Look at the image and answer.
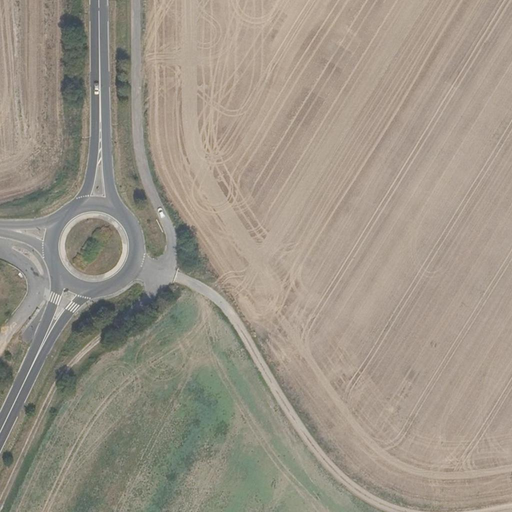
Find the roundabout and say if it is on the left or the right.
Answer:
left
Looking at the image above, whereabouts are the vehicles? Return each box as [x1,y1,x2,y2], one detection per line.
[94,83,100,95]
[158,207,166,219]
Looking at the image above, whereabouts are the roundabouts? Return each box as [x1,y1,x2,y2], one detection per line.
[0,150,146,320]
